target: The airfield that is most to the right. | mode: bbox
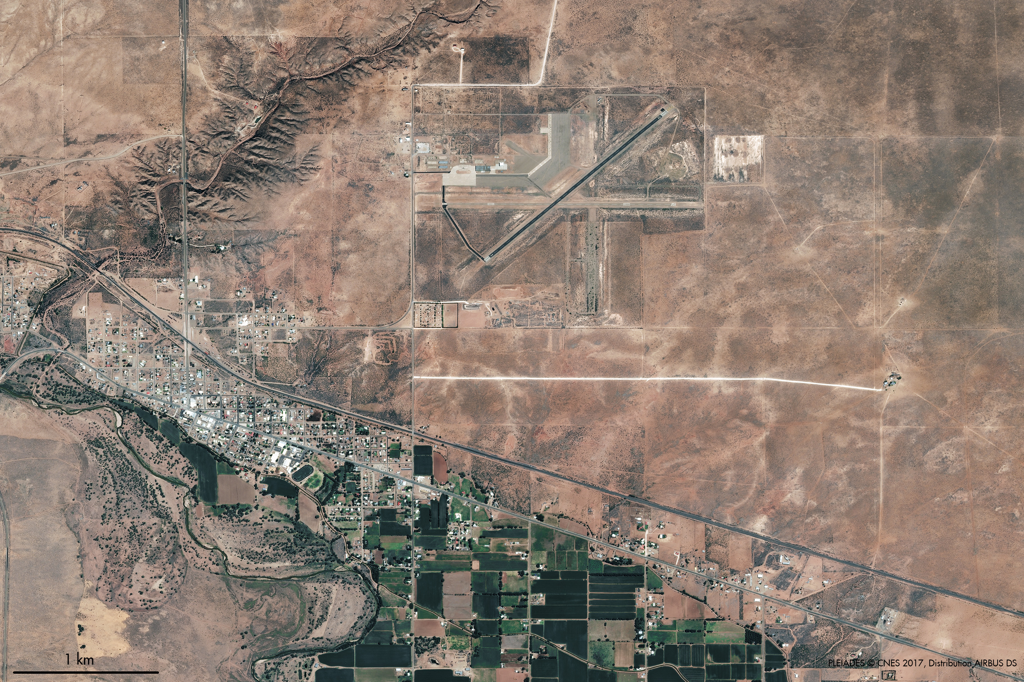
[443,93,701,315]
